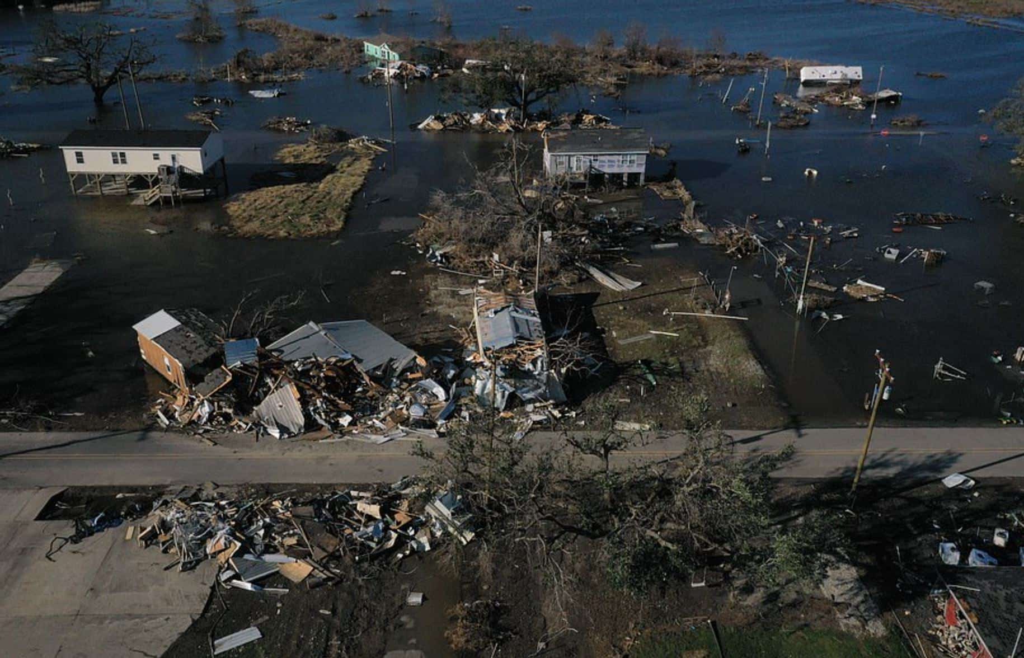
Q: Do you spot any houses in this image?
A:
Yes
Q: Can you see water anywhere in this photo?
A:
Yes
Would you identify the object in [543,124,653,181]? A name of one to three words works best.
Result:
house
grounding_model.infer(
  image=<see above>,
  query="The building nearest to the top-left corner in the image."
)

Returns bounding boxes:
[57,128,221,199]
